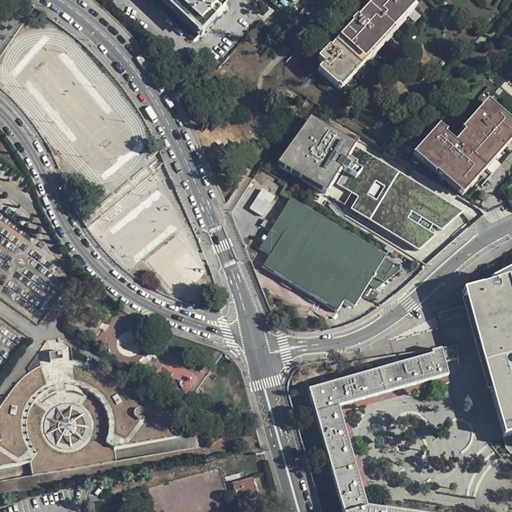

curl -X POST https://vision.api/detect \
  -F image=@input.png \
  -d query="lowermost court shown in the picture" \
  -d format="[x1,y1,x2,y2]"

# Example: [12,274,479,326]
[149,468,227,512]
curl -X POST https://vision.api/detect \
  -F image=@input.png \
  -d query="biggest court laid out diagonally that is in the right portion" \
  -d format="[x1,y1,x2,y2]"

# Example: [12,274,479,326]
[369,259,402,290]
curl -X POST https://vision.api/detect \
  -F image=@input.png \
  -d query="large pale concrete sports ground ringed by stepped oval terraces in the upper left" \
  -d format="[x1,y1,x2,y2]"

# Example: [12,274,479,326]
[1,32,147,183]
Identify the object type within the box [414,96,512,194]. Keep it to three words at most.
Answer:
building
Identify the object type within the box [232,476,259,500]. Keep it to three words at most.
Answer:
house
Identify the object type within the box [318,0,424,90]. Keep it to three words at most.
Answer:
building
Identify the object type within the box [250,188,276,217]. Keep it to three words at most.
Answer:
shed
